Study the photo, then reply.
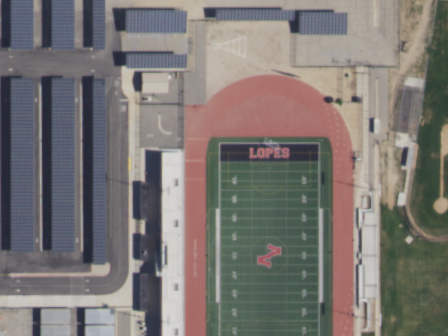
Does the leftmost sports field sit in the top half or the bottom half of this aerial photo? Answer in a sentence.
The bottom half of the photo is where the leftmost sports field is.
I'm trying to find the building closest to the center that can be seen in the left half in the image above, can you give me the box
[140,182,160,219]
